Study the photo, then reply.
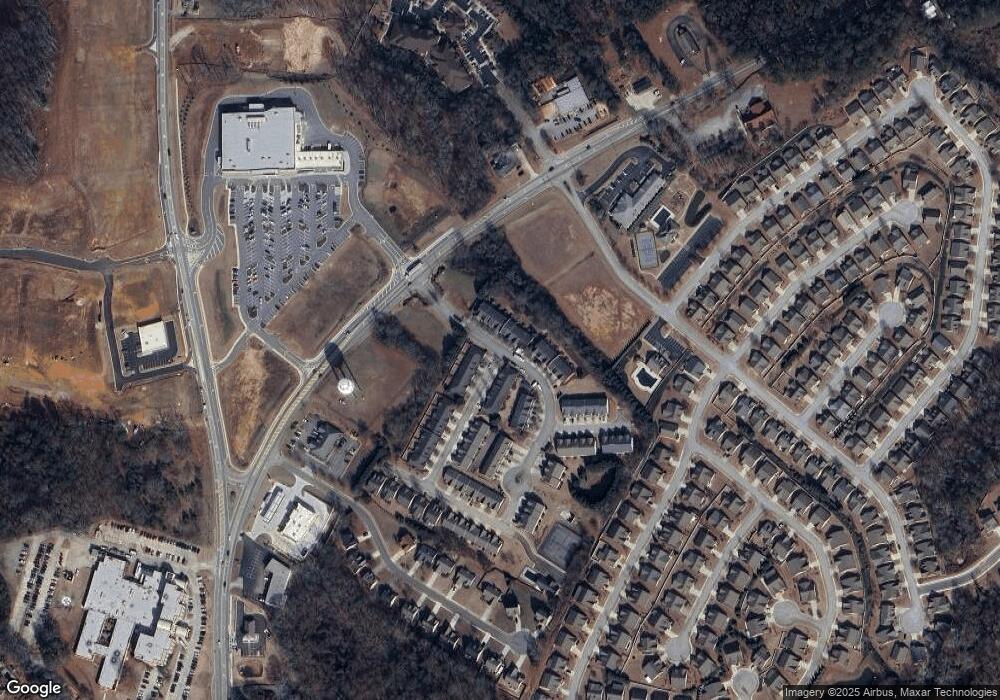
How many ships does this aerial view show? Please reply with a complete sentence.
The photo contains no ships.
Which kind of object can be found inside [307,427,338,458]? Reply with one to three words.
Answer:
building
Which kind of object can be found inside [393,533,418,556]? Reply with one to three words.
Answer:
house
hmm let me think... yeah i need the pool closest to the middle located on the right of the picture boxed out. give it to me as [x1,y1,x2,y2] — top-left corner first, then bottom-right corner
[631,361,662,393]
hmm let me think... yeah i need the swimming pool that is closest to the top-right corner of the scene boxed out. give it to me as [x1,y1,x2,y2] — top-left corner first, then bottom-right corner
[650,205,675,229]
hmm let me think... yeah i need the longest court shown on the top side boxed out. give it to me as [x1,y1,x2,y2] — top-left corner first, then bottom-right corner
[635,231,658,268]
